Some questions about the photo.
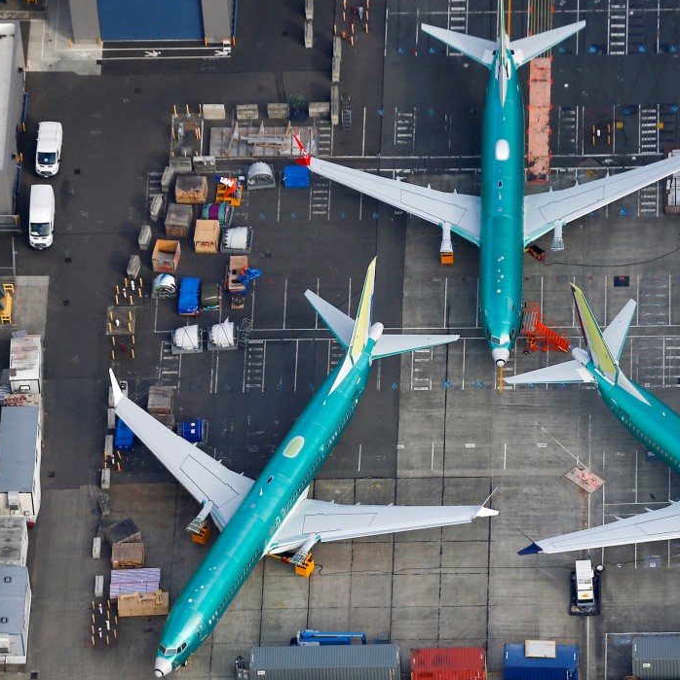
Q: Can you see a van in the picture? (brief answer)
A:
Yes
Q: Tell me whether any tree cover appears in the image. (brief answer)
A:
No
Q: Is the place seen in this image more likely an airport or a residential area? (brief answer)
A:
airport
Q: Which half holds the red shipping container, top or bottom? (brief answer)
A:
bottom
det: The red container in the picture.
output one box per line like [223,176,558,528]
[412,647,488,680]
